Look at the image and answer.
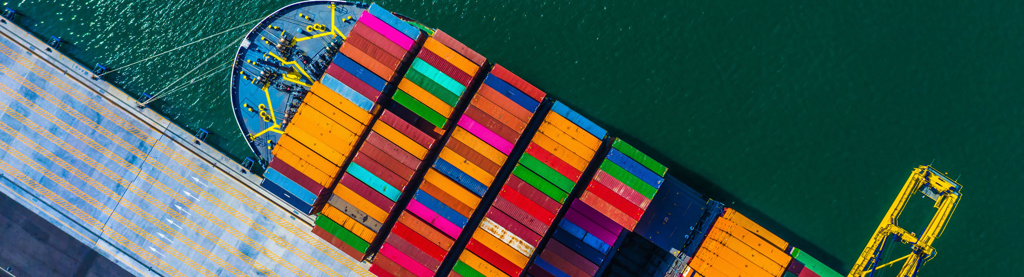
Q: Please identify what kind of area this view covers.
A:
port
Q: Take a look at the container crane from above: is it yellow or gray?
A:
yellow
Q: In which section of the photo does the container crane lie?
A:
bottom right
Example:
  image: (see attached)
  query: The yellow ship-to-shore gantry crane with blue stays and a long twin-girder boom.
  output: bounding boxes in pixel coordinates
[848,161,967,277]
